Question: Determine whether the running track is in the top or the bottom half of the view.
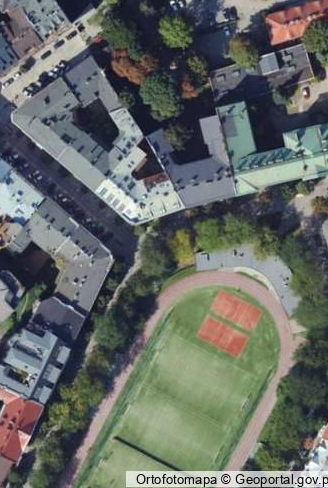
bottom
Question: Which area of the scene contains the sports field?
bottom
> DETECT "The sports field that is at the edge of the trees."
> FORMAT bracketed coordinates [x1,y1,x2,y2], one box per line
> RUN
[66,278,285,488]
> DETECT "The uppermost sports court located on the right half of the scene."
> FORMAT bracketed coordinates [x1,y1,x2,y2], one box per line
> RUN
[211,290,262,331]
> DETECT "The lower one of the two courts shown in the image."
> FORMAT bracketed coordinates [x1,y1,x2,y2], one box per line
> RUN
[196,316,249,359]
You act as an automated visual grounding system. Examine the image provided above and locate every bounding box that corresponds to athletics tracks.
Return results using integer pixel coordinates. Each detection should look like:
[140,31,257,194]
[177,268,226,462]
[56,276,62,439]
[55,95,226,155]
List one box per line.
[53,270,296,488]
